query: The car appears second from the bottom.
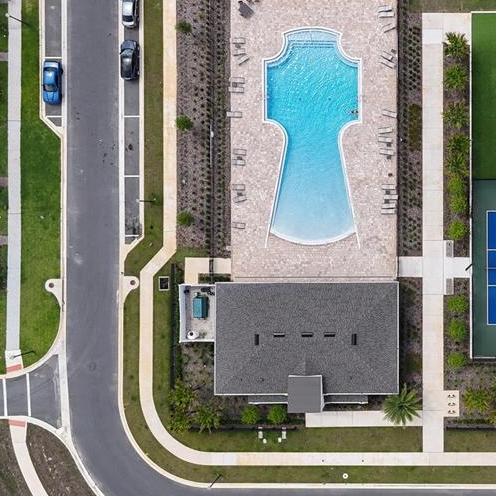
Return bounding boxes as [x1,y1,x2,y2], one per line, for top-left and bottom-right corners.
[119,41,140,81]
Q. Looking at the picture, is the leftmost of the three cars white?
No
